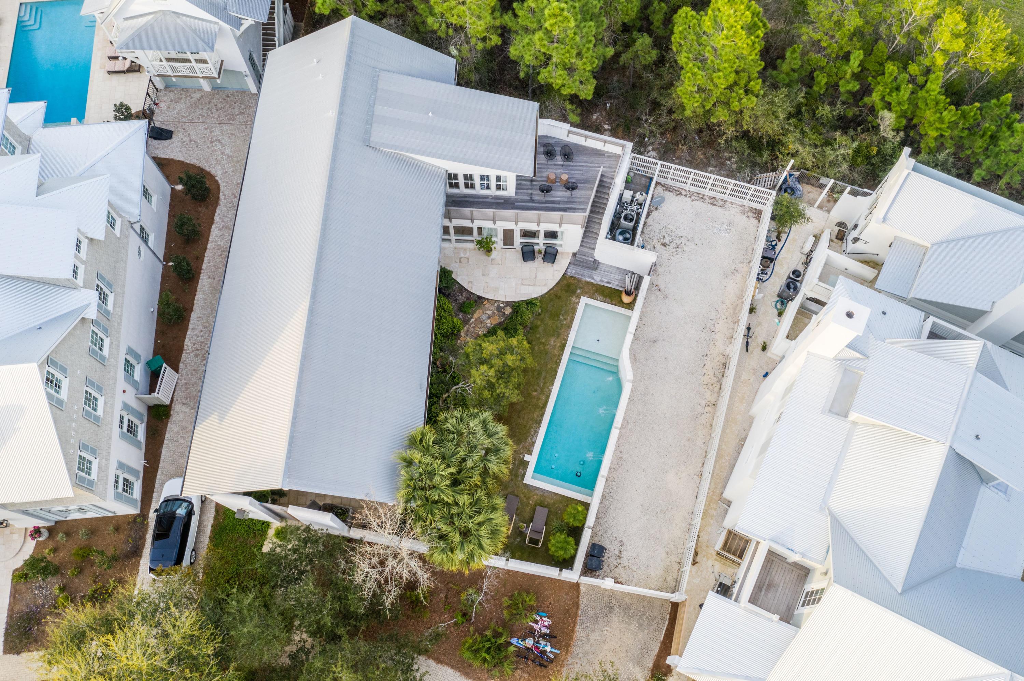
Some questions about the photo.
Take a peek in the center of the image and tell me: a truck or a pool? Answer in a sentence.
The one visible in the center of the image is a pool.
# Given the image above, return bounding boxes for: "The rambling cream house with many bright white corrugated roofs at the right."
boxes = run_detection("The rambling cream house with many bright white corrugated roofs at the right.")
[675,153,1024,681]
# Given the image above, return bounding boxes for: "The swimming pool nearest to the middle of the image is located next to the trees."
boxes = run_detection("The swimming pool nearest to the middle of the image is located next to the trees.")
[522,294,633,505]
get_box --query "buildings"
[675,153,1024,681]
[180,15,581,508]
[0,88,172,533]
